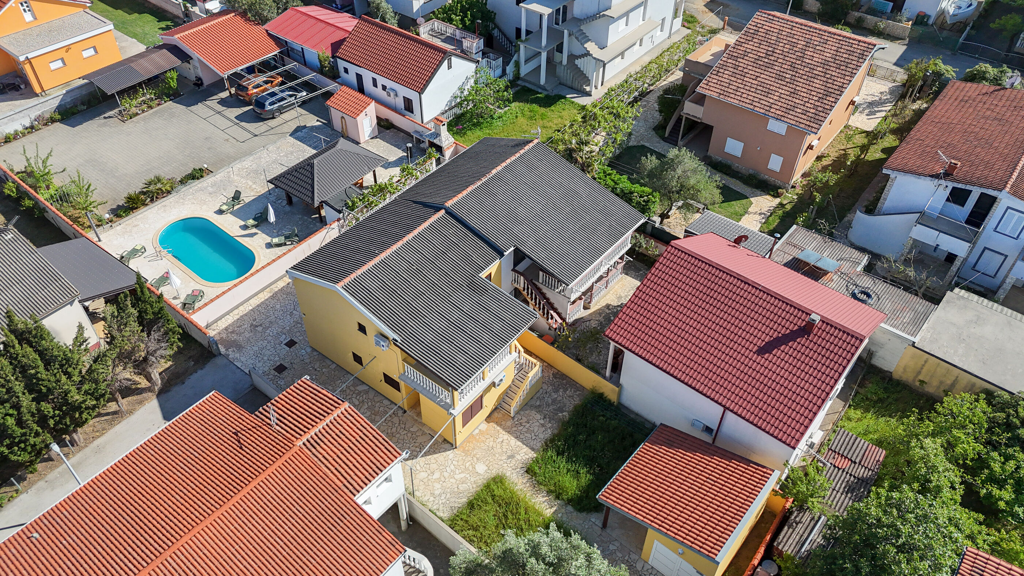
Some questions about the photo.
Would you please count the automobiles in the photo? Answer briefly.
2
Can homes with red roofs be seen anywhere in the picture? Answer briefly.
Yes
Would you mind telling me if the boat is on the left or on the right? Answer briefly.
right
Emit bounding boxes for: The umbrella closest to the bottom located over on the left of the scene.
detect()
[165,265,182,298]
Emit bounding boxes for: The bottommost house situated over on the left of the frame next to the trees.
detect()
[0,373,446,576]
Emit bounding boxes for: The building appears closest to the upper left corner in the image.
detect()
[0,0,123,93]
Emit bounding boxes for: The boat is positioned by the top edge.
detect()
[937,0,987,34]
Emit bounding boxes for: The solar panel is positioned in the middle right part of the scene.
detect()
[783,243,842,282]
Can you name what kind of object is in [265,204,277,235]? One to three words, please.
umbrella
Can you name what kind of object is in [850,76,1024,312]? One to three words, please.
house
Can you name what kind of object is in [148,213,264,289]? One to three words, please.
swimming pool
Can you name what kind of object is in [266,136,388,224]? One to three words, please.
gazebo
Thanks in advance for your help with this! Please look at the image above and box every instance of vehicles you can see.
[235,71,292,104]
[250,83,313,119]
